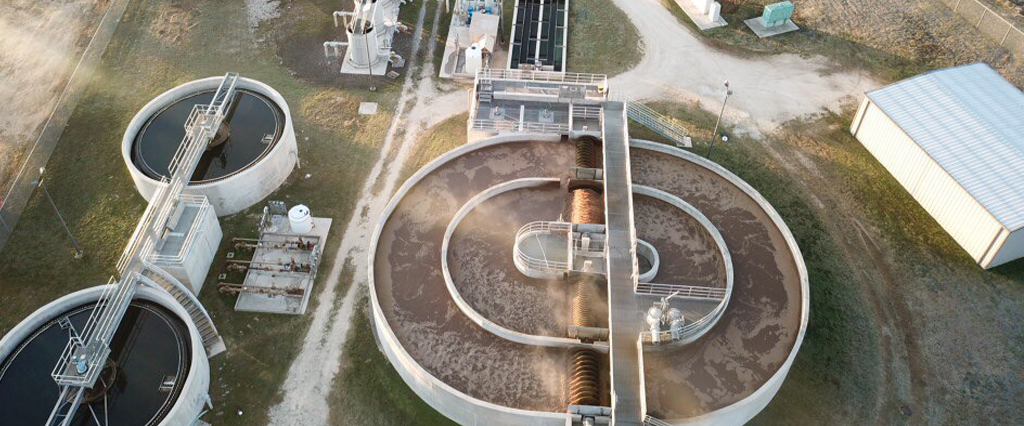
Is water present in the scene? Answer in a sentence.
Yes, the picture does contain water.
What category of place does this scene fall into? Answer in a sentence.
This image shows an industrial area.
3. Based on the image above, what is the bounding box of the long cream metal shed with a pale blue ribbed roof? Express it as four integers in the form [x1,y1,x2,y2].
[849,57,1024,270]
